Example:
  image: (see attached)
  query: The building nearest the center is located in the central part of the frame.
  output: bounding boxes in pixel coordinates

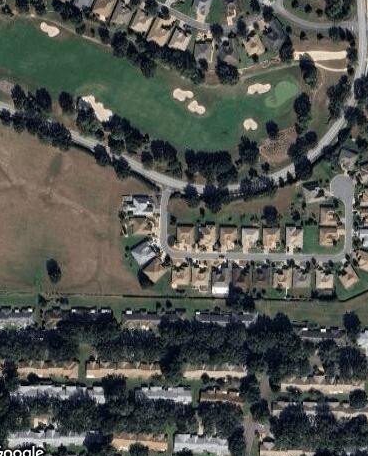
[178,224,195,251]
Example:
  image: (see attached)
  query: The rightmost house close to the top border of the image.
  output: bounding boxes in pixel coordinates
[259,19,291,46]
